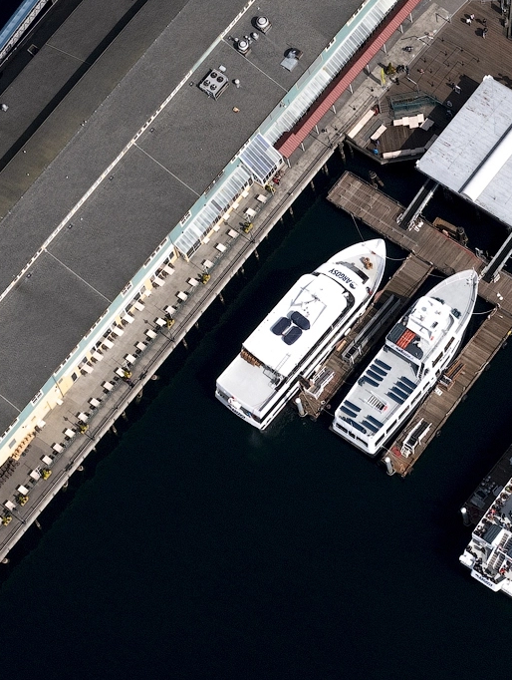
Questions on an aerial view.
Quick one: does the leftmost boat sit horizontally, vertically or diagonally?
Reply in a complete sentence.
I'd say the leftmost boat is aligned diagonally in the picture.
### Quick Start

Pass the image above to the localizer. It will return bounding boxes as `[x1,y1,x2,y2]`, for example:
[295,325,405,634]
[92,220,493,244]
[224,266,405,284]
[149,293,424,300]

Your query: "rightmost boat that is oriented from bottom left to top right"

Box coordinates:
[328,268,478,458]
